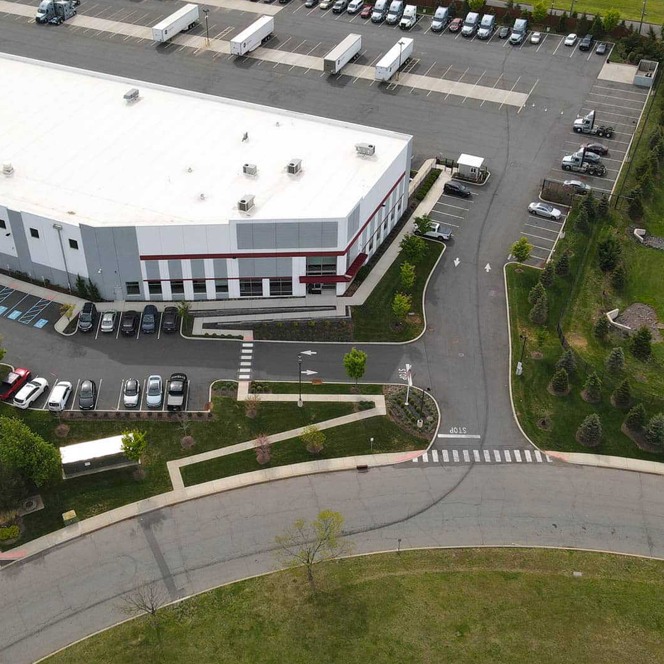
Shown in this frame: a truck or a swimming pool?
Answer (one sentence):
The one in the frame is a truck.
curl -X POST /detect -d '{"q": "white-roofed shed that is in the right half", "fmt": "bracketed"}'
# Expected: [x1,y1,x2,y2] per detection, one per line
[453,154,490,185]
